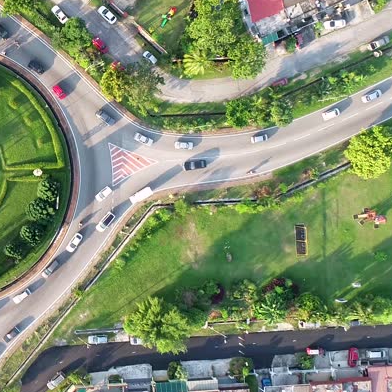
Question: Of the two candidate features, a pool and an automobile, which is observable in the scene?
automobile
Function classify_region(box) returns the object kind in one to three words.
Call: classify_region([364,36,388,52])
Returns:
vehicle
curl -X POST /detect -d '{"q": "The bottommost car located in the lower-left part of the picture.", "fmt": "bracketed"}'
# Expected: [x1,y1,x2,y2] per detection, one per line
[45,371,66,389]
